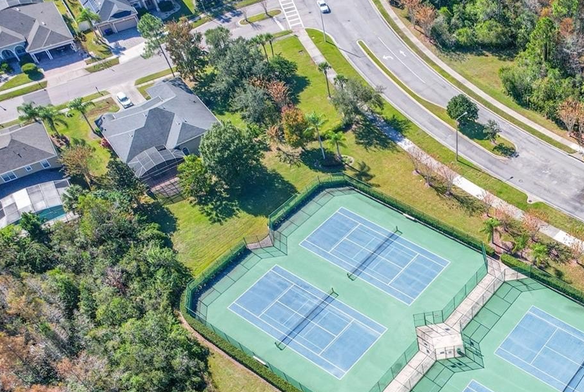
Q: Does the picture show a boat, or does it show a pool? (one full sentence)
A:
It is a pool that can be seen here.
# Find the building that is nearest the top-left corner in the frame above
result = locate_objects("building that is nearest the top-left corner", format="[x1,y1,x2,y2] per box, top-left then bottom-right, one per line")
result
[0,0,77,64]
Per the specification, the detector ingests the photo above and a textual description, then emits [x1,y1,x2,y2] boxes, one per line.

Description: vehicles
[317,1,329,13]
[115,90,133,108]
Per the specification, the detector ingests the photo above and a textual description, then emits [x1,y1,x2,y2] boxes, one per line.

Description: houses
[95,77,222,190]
[0,121,82,235]
[80,0,174,34]
[0,0,77,64]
